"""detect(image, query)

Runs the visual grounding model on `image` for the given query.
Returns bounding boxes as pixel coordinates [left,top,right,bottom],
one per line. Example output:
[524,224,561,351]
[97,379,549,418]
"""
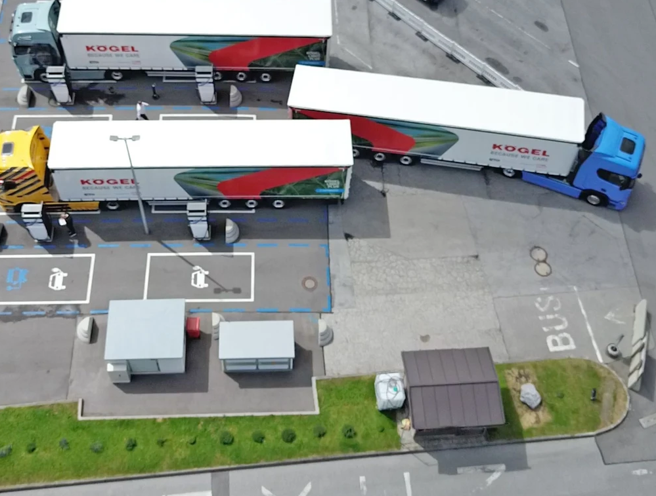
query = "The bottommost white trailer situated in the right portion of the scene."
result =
[287,66,583,178]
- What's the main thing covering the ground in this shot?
paved ground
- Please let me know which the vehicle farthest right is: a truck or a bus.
truck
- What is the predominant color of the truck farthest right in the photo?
blue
